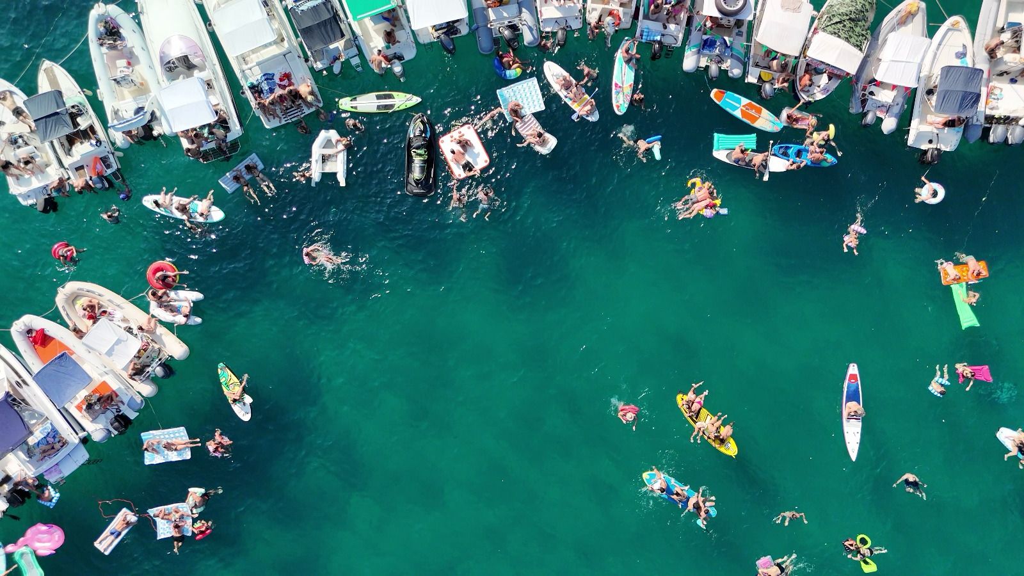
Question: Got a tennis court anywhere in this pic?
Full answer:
No, I can't see a single tennis court in this photo.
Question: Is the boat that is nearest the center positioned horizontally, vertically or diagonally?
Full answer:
The boat that is nearest the center runs vertically in the image.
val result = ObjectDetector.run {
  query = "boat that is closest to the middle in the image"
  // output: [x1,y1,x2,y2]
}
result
[405,114,436,196]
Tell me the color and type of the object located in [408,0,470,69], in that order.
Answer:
white boat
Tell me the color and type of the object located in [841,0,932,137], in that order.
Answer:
white boat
